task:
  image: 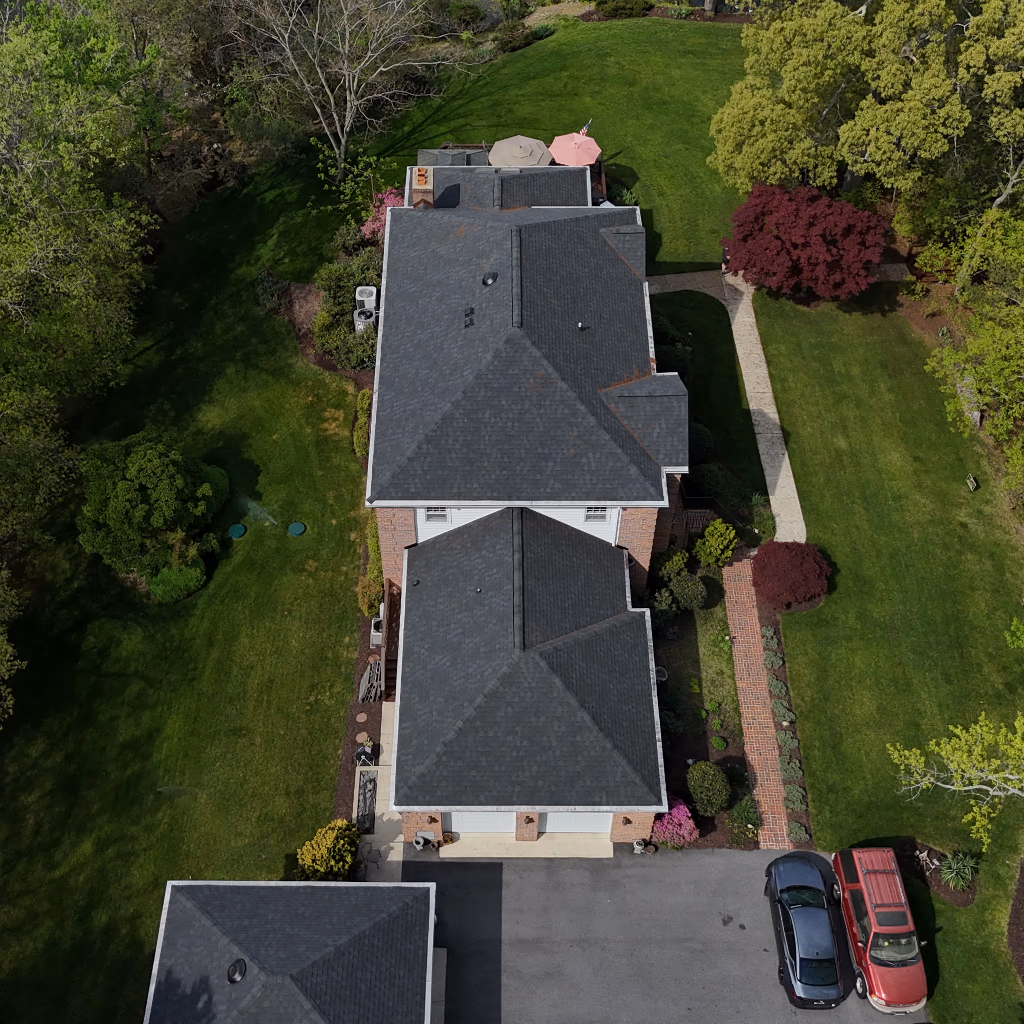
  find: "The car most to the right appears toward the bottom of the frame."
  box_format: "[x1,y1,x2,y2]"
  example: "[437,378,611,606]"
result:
[836,848,929,1014]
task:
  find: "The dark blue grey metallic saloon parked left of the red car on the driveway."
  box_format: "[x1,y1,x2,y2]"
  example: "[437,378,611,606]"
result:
[766,860,846,1007]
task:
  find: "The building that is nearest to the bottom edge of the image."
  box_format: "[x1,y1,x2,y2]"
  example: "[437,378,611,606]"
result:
[144,882,440,1024]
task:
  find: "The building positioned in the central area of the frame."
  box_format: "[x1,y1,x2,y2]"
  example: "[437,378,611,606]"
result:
[365,163,744,841]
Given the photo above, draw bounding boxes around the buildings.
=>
[365,163,744,841]
[144,882,440,1024]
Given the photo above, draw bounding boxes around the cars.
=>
[766,860,846,1007]
[836,848,929,1014]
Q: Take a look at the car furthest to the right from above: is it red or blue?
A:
red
